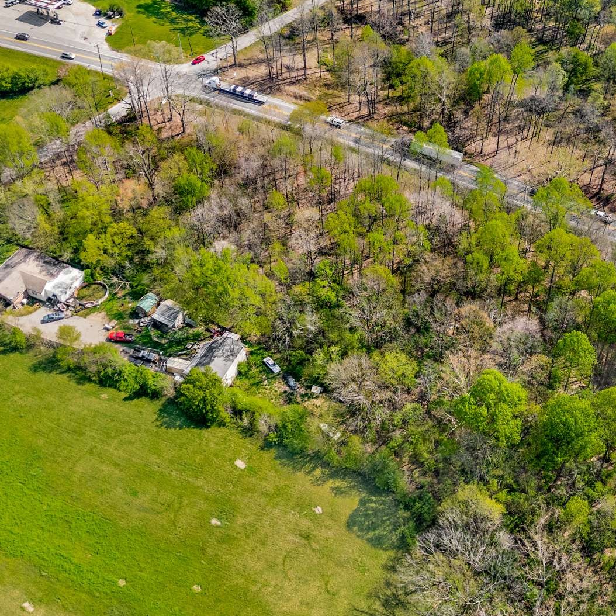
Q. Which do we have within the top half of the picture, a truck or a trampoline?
truck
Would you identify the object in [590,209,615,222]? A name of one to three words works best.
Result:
vehicle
